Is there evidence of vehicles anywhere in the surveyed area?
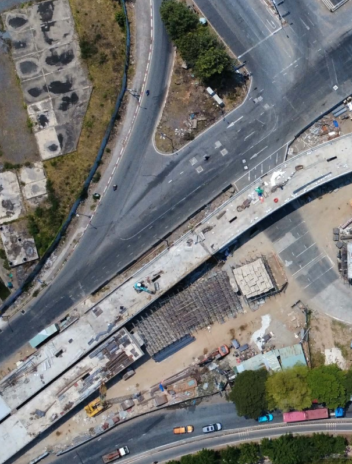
Yes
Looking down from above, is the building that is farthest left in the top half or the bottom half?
bottom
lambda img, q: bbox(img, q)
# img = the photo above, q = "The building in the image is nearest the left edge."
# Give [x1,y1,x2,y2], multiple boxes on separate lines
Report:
[30,324,64,348]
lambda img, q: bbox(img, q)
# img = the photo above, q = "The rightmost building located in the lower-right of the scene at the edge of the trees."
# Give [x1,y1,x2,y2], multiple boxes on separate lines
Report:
[277,345,308,367]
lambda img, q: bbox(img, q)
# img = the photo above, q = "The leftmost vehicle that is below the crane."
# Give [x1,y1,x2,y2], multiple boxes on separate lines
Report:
[100,445,132,463]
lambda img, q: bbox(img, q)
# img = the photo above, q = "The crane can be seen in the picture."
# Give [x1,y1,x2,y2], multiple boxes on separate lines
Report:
[79,395,142,416]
